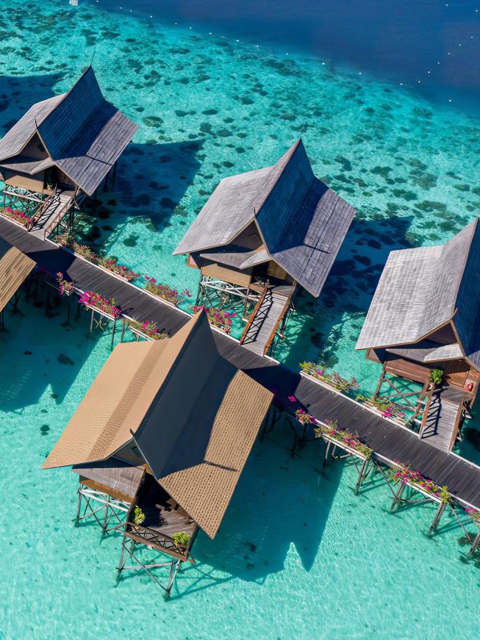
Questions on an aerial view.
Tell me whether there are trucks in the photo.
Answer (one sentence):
No, there's no truck here.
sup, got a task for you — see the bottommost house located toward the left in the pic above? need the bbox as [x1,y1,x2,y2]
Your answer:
[41,287,270,599]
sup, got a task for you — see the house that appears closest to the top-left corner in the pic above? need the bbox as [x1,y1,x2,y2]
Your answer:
[0,48,139,237]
